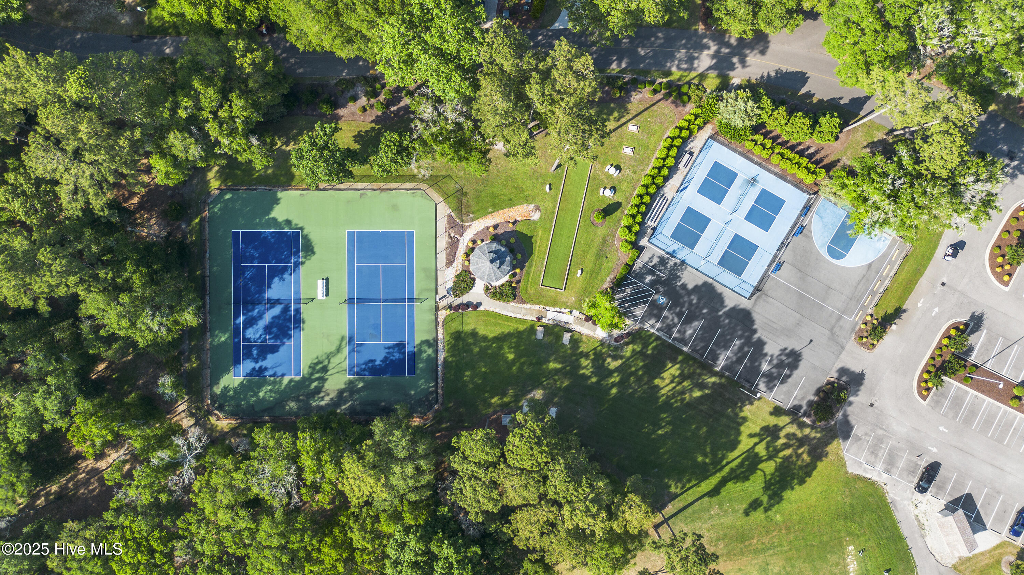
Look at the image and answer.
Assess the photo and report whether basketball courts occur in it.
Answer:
Yes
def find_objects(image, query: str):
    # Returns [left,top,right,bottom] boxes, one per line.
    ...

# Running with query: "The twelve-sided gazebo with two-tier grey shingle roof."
[468,241,512,285]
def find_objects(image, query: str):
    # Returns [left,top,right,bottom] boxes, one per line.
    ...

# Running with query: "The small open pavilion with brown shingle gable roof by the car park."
[930,507,978,559]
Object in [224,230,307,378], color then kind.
blue tennis court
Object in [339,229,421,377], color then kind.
blue tennis court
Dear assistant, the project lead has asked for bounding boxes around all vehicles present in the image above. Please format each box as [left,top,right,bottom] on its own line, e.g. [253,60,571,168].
[915,467,938,496]
[943,245,961,262]
[1012,508,1024,536]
